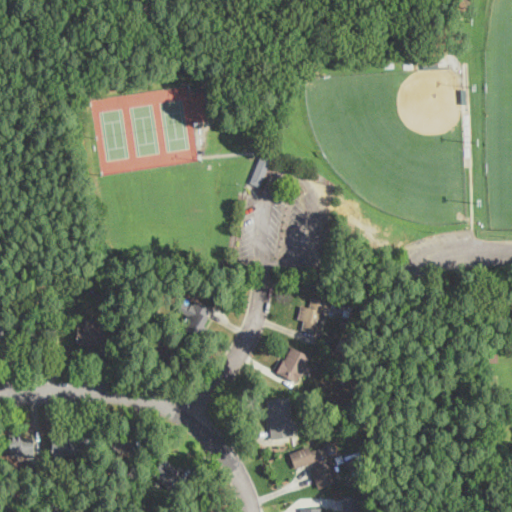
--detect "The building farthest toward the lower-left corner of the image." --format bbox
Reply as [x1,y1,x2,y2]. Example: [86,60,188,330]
[8,438,36,458]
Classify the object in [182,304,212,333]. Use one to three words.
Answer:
house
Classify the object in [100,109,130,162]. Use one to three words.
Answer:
tennis court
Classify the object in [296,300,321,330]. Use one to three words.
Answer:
house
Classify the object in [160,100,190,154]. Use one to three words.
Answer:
tennis court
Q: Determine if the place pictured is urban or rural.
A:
rural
